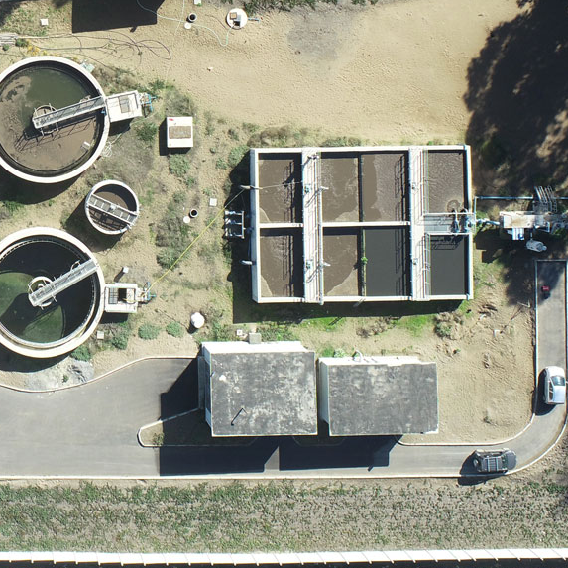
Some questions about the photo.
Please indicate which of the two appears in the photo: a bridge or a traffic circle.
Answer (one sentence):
This aerial view contains a bridge.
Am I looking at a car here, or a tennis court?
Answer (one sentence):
This aerial view contains a car.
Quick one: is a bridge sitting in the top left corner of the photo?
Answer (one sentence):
Yes, you'll find a bridge in the top left corner of the photo.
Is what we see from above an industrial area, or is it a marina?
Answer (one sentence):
It's an industrial area.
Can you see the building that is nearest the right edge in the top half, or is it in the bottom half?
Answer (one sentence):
You can find the building that is nearest the right edge in the bottom half.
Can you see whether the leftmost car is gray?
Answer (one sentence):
Yes, gray is the color of the leftmost car.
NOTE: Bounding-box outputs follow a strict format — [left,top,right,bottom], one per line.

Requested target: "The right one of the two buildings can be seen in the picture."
[319,353,438,439]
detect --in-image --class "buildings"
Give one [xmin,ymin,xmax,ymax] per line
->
[203,343,317,439]
[319,353,438,439]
